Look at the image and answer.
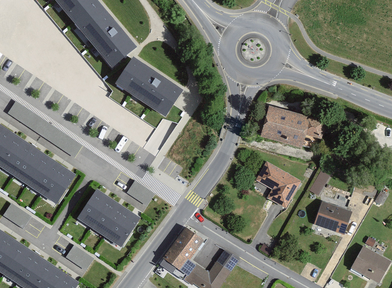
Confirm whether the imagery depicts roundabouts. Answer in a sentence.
Yes, the photo shows a roundabout.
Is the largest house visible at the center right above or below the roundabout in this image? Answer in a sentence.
In the image, the largest house visible at the center right sits below the roundabout.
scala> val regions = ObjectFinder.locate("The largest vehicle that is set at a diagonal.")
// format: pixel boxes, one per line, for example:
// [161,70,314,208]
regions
[114,136,128,152]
